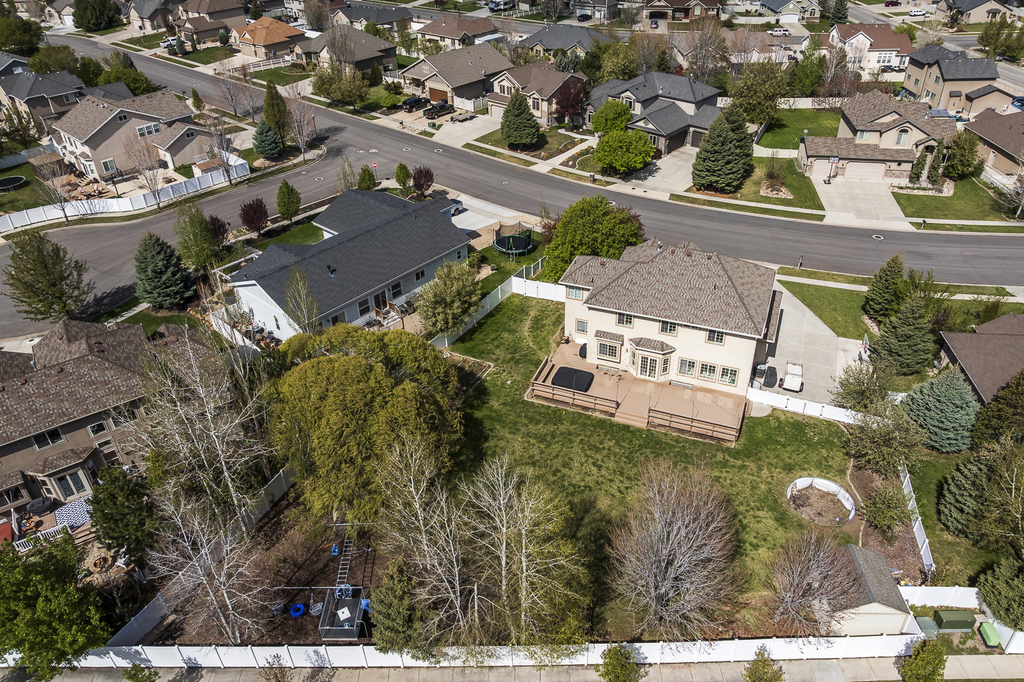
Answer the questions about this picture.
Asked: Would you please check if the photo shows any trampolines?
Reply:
Yes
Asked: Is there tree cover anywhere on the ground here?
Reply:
Yes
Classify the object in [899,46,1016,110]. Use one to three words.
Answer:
house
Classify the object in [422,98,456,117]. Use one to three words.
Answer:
vehicle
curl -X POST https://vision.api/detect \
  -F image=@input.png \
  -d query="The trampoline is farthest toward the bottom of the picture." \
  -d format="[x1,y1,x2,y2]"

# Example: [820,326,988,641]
[494,220,532,261]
